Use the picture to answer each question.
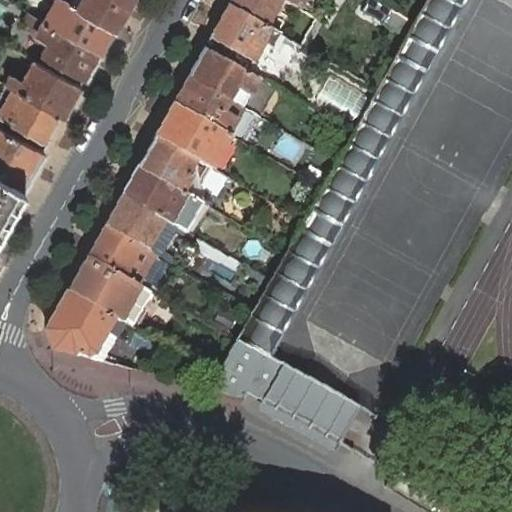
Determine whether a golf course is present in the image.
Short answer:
No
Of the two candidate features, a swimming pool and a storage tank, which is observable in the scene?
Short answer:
swimming pool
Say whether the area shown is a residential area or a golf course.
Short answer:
residential area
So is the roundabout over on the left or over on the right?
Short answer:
left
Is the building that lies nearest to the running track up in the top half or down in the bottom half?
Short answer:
bottom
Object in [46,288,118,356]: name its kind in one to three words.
house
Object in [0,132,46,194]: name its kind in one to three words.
house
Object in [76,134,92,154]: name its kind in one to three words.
car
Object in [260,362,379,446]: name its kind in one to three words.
building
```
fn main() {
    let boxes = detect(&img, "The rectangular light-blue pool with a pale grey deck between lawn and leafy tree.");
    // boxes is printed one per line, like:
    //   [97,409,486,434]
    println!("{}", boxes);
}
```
[273,131,306,166]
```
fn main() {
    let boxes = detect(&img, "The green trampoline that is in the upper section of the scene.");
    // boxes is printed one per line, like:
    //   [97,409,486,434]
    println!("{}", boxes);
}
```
[233,190,252,209]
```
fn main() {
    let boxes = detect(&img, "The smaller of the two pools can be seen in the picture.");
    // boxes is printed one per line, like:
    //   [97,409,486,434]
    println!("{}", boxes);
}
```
[243,240,262,256]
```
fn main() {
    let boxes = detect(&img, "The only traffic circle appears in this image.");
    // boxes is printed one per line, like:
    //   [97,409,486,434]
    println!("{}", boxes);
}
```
[0,390,60,512]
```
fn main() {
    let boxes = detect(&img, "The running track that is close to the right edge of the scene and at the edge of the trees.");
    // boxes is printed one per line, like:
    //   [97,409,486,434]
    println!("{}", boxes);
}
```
[424,220,512,410]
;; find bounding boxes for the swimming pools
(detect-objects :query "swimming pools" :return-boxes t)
[243,240,262,256]
[273,131,306,166]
